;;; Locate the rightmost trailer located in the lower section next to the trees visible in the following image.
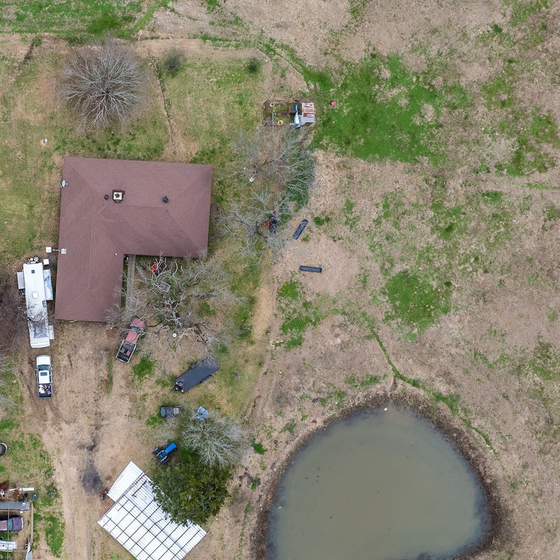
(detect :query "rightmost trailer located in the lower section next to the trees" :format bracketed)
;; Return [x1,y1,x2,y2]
[173,356,219,394]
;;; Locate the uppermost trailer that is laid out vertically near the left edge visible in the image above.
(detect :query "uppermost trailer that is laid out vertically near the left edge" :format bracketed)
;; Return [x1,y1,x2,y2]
[17,257,56,348]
